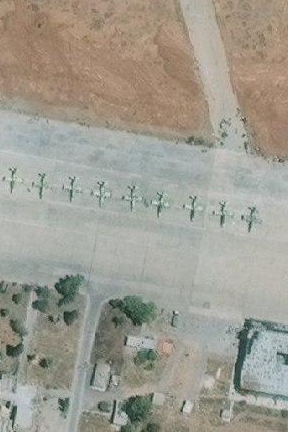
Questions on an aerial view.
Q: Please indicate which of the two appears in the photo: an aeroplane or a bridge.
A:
aeroplane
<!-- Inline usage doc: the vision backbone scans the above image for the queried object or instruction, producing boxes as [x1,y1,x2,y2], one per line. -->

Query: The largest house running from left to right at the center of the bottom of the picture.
[127,336,155,349]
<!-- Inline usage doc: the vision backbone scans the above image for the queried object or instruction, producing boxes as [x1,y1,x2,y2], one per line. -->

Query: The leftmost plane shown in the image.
[3,166,22,191]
